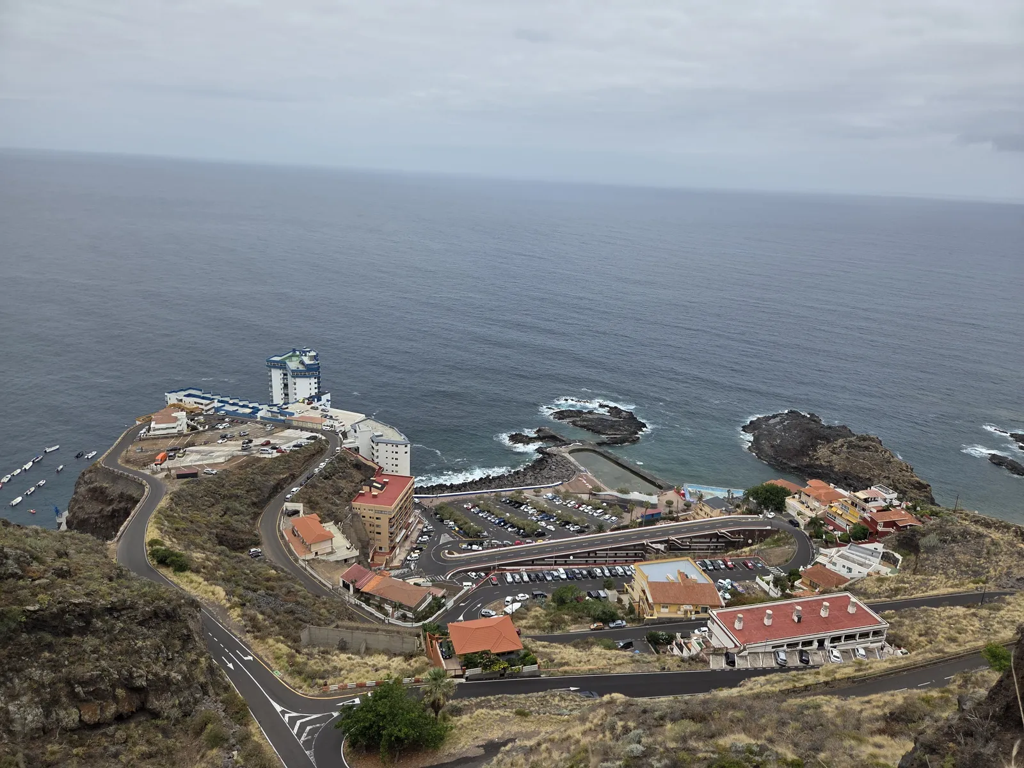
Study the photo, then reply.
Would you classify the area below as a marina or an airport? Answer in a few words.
marina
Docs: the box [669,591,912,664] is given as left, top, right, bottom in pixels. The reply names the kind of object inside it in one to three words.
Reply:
building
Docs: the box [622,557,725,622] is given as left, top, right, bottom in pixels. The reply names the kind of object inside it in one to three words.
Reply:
house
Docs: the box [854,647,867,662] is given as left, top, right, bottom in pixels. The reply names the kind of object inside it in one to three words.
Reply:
vehicle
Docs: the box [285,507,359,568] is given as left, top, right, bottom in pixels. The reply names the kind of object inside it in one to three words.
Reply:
house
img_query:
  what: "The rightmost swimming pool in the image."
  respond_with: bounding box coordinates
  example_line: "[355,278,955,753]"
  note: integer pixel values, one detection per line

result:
[683,481,746,501]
